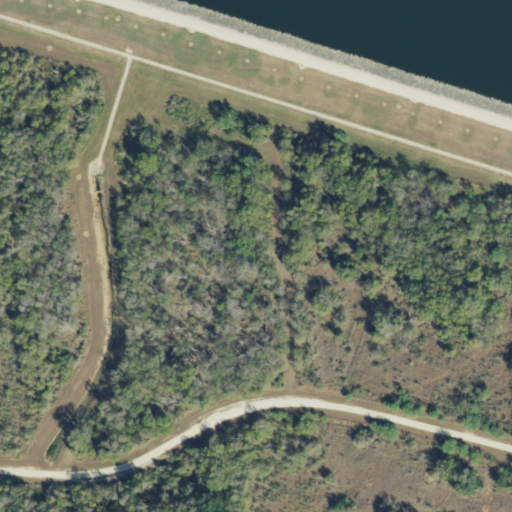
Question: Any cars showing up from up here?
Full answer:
No, there appears to be no car in this shot.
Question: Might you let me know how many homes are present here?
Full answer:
The picture shows no homes.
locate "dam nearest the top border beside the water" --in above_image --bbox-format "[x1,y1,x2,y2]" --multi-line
[0,0,512,166]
